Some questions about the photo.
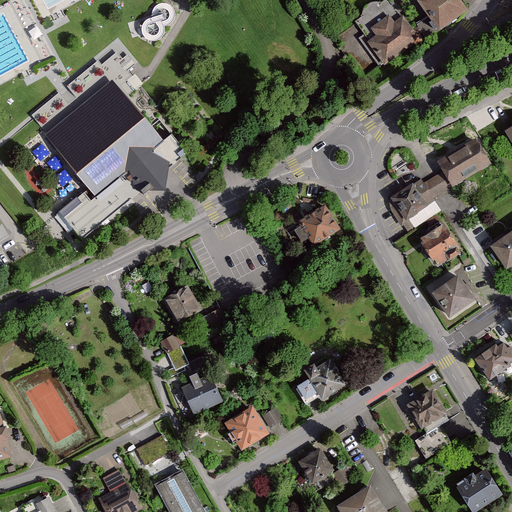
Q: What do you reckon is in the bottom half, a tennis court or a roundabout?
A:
tennis court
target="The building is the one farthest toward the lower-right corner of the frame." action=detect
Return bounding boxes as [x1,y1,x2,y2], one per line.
[456,468,503,512]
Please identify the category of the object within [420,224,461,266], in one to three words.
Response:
house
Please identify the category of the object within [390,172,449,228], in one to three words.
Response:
building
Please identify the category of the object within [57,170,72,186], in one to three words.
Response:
umbrella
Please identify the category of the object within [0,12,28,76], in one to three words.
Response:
swimming pool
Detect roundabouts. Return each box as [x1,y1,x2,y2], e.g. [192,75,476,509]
[312,128,372,187]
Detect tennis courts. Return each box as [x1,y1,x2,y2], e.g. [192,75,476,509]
[13,368,98,458]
